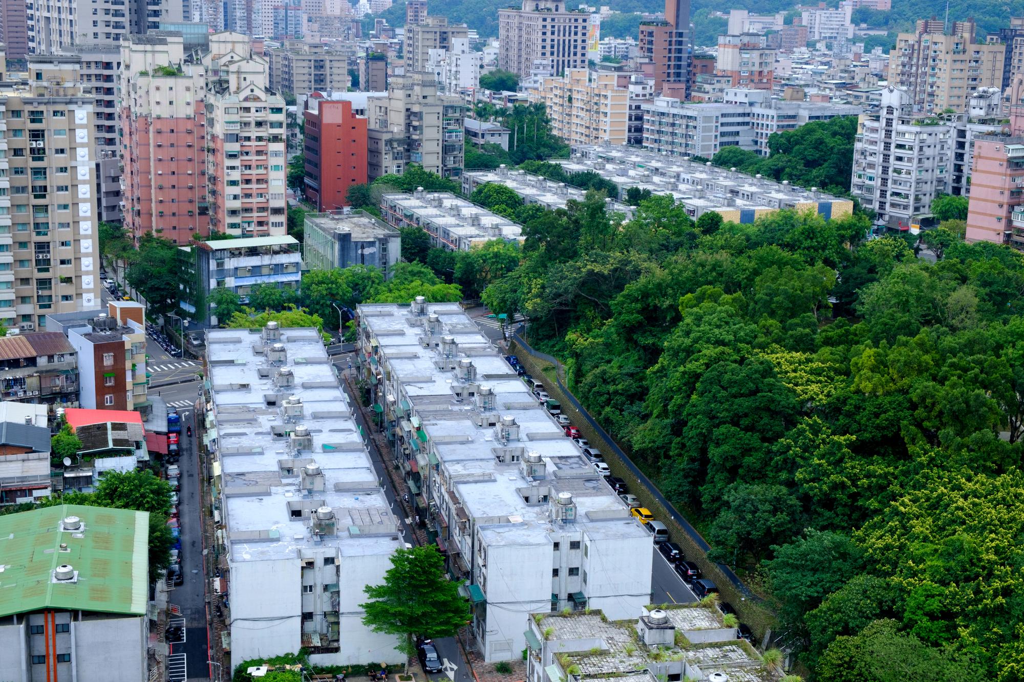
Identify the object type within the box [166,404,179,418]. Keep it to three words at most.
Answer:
vehicle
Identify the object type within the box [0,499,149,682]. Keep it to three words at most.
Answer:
building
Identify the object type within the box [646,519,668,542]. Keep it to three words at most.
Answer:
car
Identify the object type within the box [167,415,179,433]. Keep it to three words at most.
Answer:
vehicle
